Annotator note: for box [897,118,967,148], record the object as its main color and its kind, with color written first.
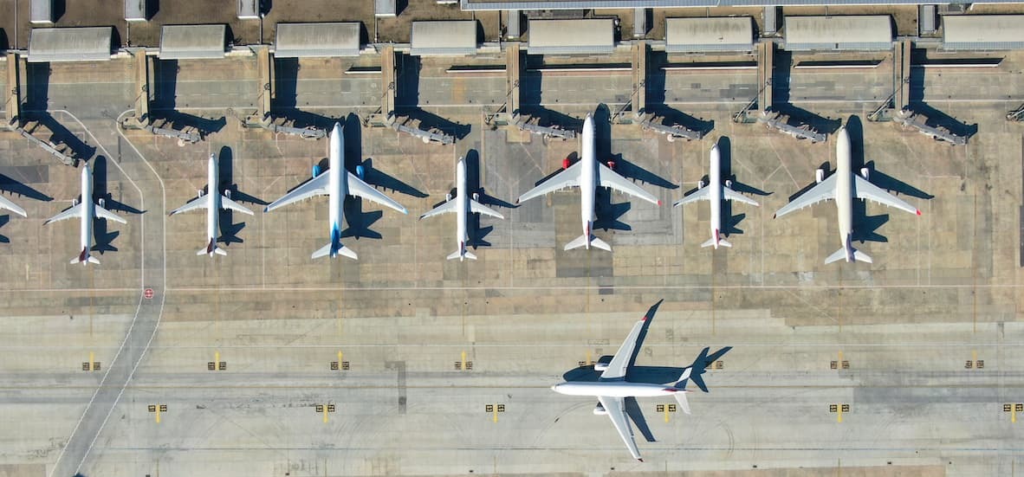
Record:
gray jet bridge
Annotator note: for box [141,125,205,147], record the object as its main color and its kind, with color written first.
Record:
gray jet bridge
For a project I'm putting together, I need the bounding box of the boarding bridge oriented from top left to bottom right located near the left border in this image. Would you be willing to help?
[15,124,79,169]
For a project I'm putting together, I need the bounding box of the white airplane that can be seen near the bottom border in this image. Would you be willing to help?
[551,318,692,462]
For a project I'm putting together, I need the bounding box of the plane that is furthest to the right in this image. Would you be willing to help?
[775,125,919,263]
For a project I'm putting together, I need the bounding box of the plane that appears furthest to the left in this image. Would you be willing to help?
[0,195,29,217]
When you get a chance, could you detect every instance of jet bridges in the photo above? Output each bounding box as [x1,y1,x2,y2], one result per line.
[15,124,79,169]
[763,118,826,146]
[389,121,455,147]
[513,120,575,144]
[897,118,967,148]
[259,121,328,143]
[141,125,205,147]
[638,120,702,145]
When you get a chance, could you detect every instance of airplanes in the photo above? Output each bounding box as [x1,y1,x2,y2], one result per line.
[0,195,29,217]
[263,122,407,260]
[551,318,692,462]
[675,143,758,247]
[42,163,125,266]
[517,112,661,250]
[420,157,503,260]
[169,154,252,257]
[775,125,919,263]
